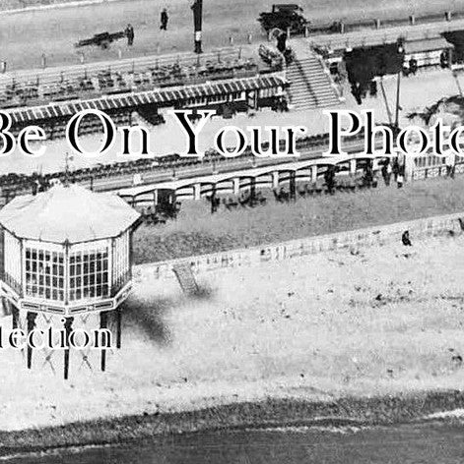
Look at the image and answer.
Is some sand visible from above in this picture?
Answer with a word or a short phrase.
Yes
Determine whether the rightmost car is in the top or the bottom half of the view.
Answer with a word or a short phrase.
top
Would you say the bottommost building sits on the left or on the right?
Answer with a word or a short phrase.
left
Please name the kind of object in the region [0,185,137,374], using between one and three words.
building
